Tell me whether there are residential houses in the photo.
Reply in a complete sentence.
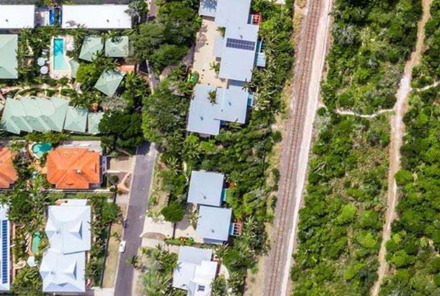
Yes, this view includes a residential house.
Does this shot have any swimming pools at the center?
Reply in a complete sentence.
No, I can find no swimming pool at the center.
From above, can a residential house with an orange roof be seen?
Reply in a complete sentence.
Yes, there's a residential house with an orange roof down there.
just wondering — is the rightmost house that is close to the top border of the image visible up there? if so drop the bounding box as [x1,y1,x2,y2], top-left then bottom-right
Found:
[199,0,265,80]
